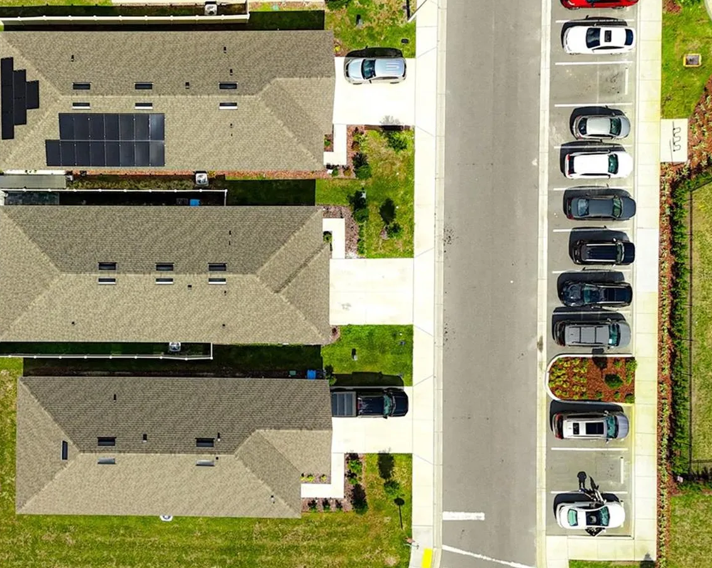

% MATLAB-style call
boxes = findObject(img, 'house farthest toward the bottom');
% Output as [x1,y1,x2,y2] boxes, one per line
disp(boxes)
[15,377,337,517]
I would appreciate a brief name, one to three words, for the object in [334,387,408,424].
truck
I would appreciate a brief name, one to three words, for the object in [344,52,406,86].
car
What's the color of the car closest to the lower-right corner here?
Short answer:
white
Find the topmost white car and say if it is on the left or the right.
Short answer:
right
